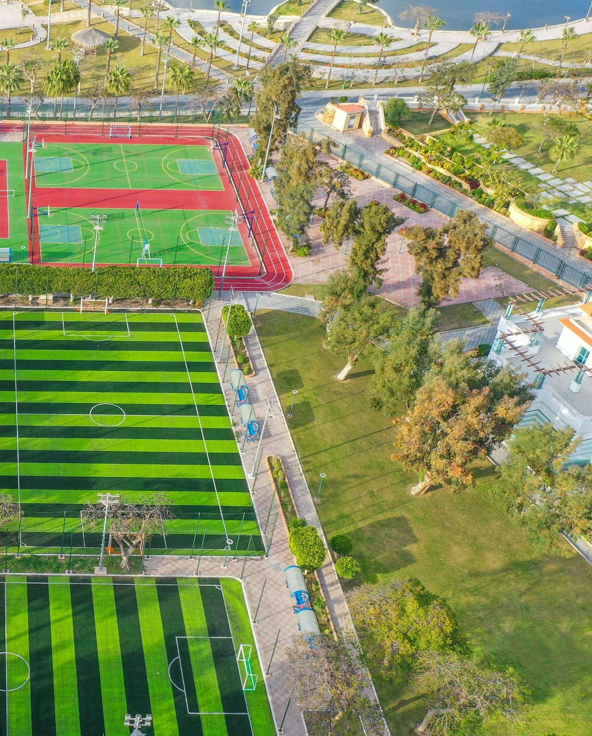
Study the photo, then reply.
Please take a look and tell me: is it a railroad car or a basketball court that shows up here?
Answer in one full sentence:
Looking from above, you can make out a basketball court.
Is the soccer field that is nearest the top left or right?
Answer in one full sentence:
The soccer field that is nearest the top is on the left side of the image.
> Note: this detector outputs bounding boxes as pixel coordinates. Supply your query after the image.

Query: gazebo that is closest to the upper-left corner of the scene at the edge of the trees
[70,25,110,56]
